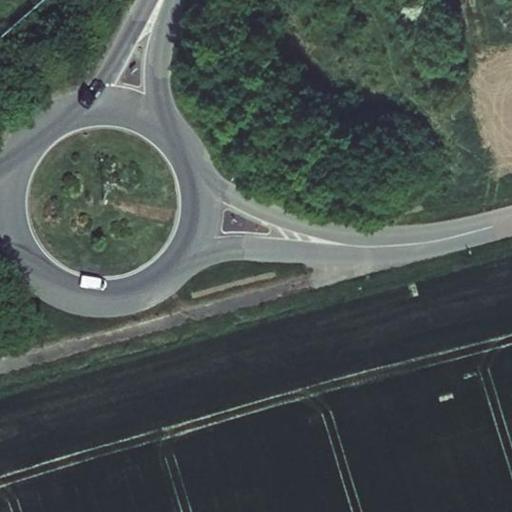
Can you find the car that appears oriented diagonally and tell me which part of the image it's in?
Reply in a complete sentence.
The car that appears oriented diagonally is located in the top left region of the scene.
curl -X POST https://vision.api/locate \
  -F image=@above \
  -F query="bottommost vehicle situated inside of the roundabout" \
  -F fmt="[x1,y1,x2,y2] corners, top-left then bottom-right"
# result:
[80,276,107,292]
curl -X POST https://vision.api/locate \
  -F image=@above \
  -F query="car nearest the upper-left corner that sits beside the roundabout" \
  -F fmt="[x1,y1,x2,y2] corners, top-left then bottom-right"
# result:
[82,81,104,108]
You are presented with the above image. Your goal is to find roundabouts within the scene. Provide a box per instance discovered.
[0,94,212,310]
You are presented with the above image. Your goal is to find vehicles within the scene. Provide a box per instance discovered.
[80,276,107,292]
[82,81,104,108]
